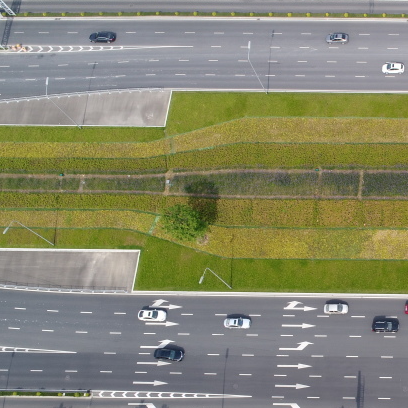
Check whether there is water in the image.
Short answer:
No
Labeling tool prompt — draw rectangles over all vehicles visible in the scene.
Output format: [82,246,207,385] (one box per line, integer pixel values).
[89,30,113,42]
[371,319,398,332]
[153,348,183,361]
[222,316,251,328]
[381,62,405,73]
[323,302,347,314]
[325,31,349,43]
[136,309,165,322]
